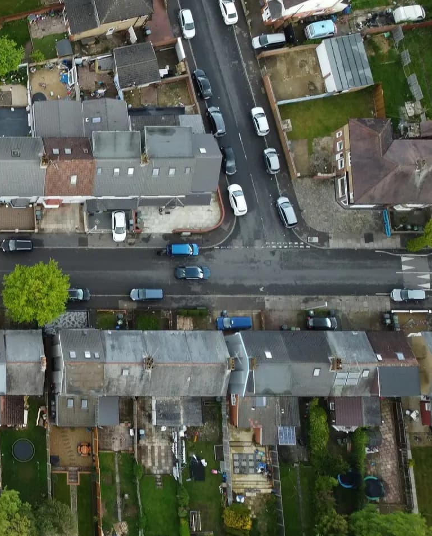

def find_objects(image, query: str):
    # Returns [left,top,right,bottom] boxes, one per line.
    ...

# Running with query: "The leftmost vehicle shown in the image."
[1,237,33,253]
